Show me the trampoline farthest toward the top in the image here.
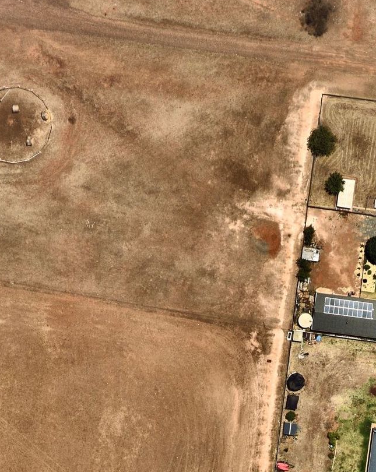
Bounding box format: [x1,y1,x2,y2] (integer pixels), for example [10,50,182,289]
[287,374,305,391]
